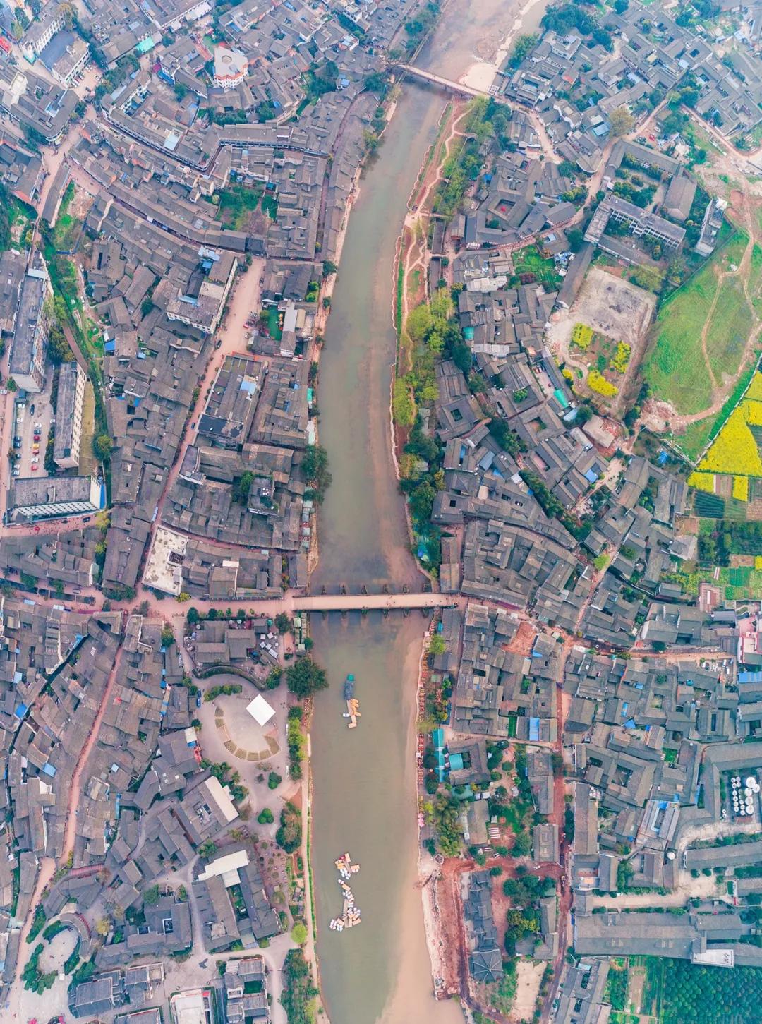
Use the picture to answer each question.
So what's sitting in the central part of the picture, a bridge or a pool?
bridge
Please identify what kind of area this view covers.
residential area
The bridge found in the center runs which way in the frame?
from side to side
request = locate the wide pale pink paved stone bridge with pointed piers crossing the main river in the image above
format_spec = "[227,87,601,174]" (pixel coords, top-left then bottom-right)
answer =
[290,585,464,621]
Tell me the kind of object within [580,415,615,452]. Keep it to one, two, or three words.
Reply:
building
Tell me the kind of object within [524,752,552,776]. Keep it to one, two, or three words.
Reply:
house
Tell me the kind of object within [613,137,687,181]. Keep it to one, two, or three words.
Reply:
house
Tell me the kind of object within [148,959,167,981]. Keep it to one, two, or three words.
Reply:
building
